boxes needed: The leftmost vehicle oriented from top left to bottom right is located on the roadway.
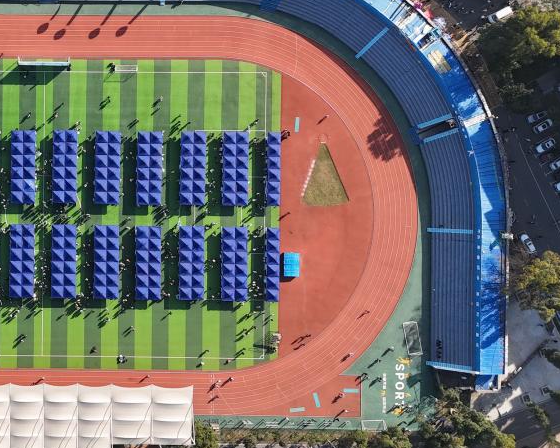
[518,234,535,252]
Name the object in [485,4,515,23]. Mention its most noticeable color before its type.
white vehicle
